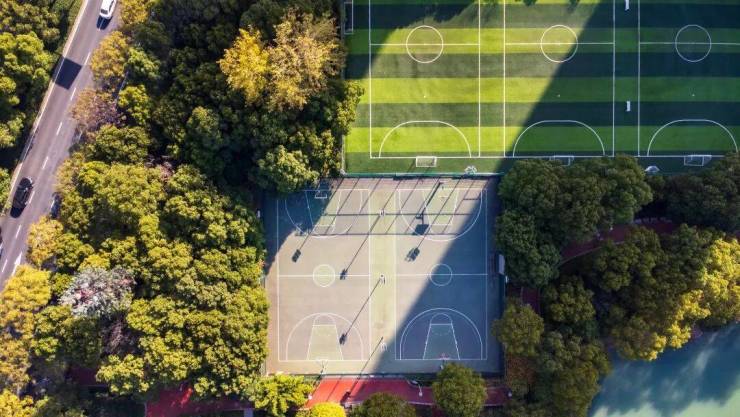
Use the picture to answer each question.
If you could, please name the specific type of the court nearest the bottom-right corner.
basketball court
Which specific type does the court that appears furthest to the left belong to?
basketball court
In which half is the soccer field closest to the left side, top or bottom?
top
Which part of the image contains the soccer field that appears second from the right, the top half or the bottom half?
top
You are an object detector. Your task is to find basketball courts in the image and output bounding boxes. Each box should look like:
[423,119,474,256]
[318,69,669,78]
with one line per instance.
[396,189,487,359]
[278,189,370,361]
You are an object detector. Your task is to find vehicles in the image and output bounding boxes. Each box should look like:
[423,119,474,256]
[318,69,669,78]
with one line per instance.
[12,177,35,207]
[101,0,119,20]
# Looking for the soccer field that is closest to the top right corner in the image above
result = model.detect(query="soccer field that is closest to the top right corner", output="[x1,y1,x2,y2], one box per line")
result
[627,0,740,173]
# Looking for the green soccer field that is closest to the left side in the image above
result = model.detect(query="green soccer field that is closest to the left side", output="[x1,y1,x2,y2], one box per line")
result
[345,0,492,174]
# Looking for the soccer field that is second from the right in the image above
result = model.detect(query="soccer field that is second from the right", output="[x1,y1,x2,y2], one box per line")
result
[492,0,627,174]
